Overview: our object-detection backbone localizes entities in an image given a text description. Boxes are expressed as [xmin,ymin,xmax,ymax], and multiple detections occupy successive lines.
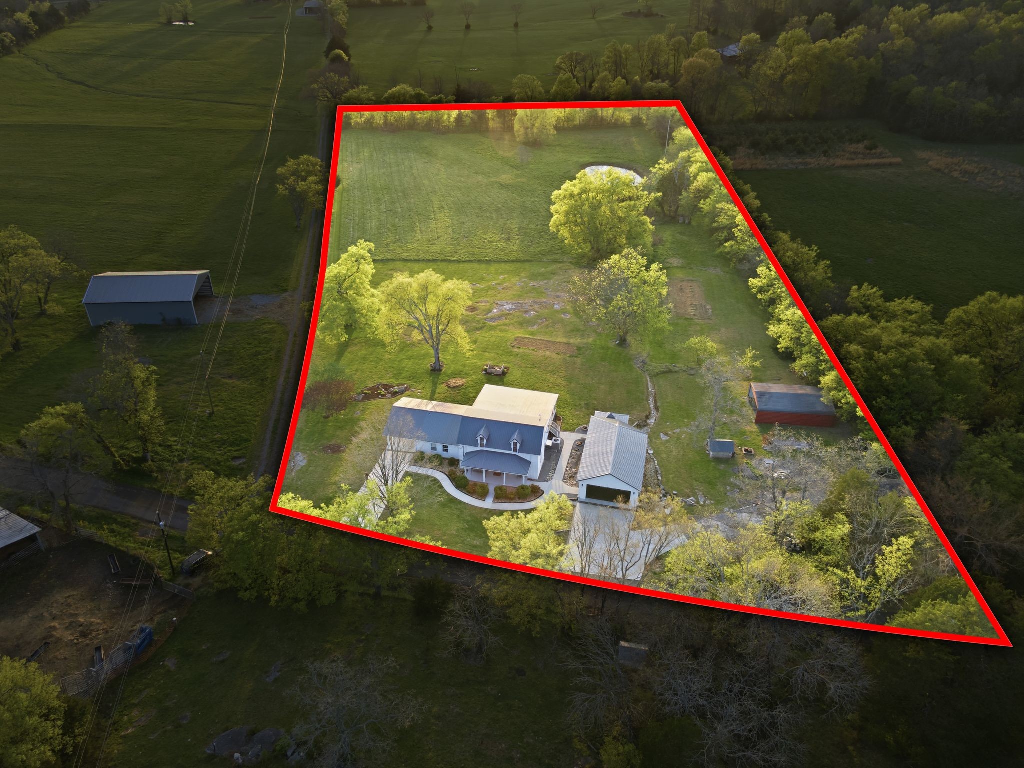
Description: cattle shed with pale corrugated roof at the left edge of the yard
[0,501,48,565]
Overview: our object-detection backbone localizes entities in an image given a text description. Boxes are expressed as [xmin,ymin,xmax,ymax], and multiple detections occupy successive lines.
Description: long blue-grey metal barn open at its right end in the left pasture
[82,272,218,327]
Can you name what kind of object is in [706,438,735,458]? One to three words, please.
shed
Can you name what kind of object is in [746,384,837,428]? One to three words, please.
barn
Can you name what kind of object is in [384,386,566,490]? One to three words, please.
house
